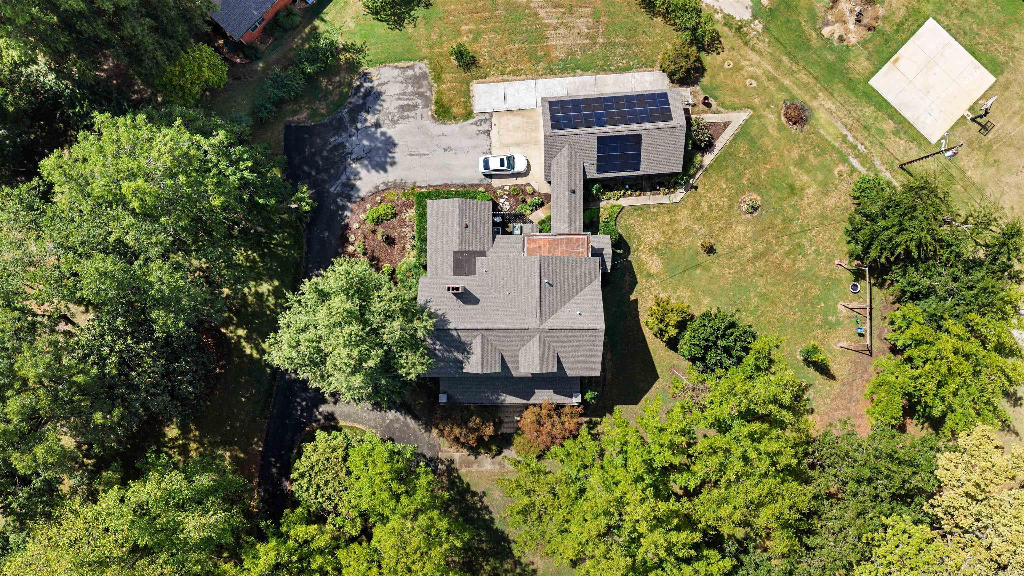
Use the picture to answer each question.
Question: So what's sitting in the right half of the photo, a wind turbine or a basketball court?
basketball court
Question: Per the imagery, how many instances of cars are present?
1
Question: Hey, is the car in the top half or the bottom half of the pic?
top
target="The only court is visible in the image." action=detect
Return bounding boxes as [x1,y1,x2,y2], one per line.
[869,17,996,144]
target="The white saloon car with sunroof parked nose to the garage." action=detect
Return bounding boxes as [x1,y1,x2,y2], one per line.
[478,152,528,175]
